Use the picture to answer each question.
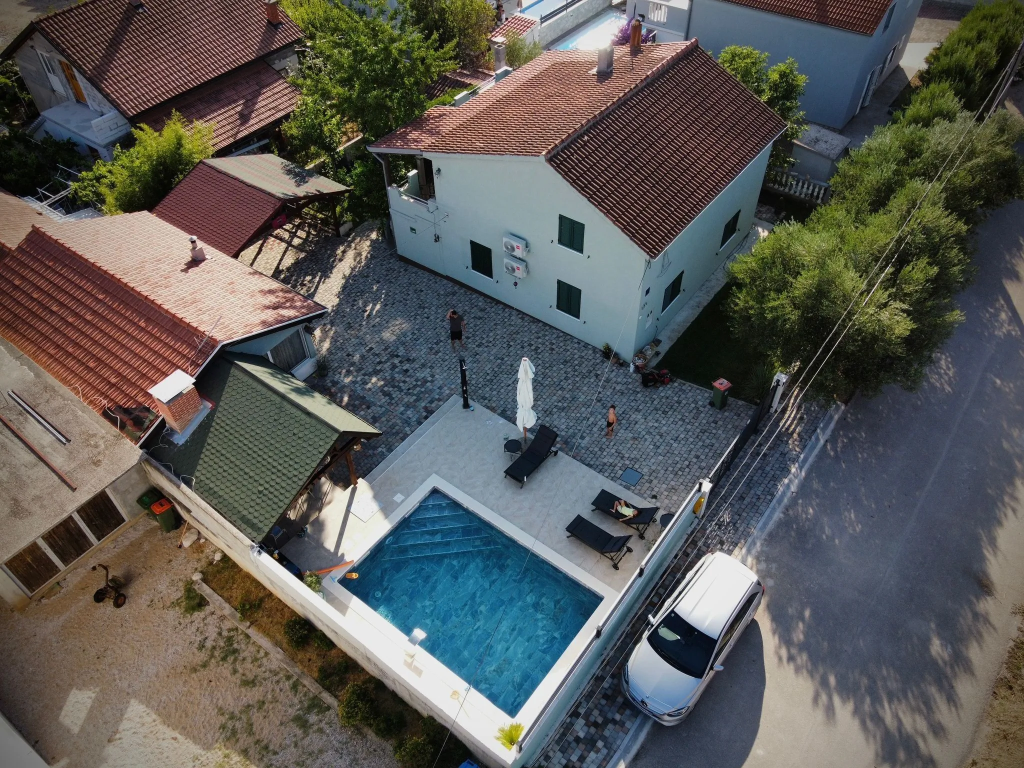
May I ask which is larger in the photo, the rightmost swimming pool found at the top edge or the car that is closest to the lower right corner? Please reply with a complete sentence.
The car covers a greater area than the swimming pool.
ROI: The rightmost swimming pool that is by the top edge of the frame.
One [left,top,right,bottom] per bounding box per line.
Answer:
[542,8,629,52]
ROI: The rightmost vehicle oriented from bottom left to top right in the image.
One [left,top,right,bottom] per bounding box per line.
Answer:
[616,549,758,731]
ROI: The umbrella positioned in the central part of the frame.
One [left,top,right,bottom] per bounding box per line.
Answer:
[514,359,534,451]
